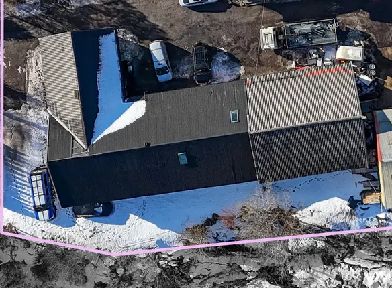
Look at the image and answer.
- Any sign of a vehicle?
Yes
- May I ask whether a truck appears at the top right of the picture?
Yes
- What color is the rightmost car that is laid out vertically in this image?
black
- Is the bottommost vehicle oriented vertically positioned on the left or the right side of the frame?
left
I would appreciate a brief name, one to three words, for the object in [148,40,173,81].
vehicle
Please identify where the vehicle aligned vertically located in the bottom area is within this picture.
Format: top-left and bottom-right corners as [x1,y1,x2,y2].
[30,171,56,219]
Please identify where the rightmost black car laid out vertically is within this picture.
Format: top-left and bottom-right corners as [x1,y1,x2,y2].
[193,43,213,85]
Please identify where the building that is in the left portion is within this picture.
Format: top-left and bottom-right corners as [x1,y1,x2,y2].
[37,27,258,209]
